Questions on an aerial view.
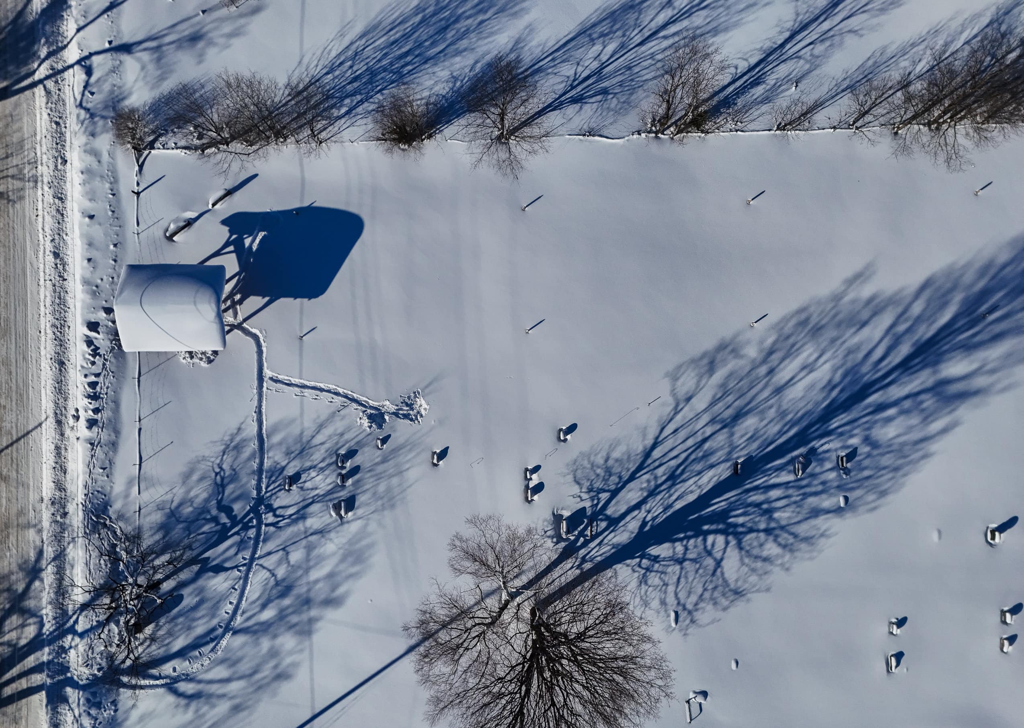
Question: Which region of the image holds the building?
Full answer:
Look in the left portion of the view to spot the building.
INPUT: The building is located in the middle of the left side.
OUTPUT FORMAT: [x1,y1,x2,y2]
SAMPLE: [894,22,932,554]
[114,263,228,352]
